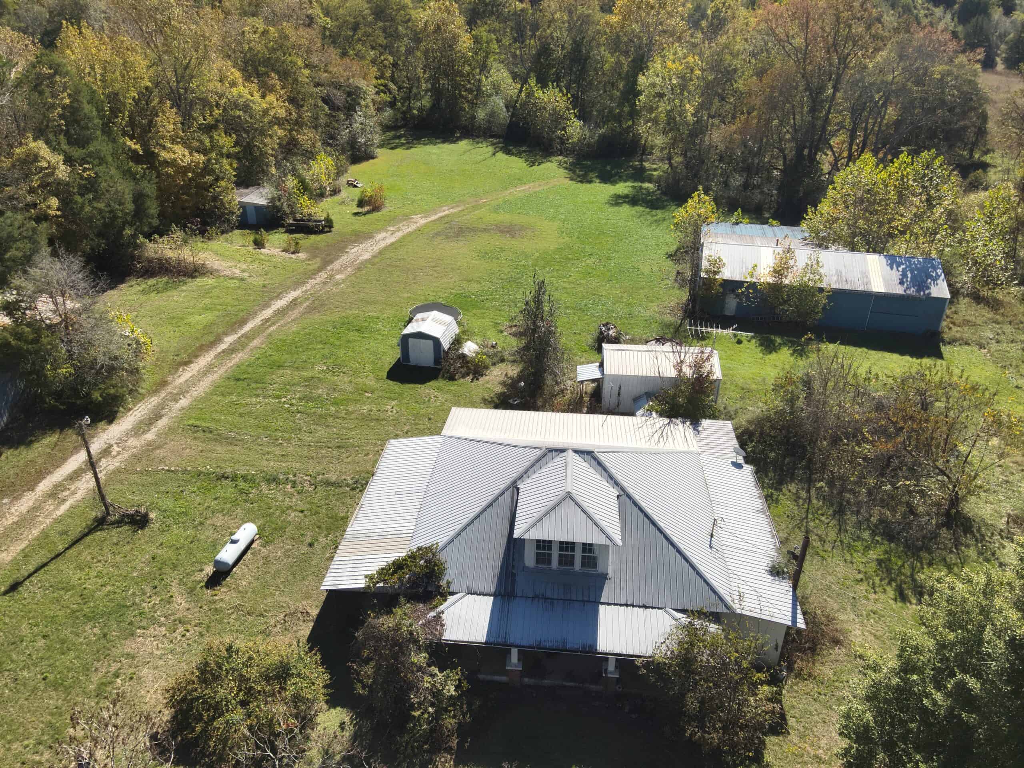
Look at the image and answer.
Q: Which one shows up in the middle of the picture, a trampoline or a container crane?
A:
trampoline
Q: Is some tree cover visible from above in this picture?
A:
Yes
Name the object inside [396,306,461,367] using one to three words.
shed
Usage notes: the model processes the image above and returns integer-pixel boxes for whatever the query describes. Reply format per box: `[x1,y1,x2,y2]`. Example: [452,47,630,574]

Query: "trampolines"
[408,301,464,325]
